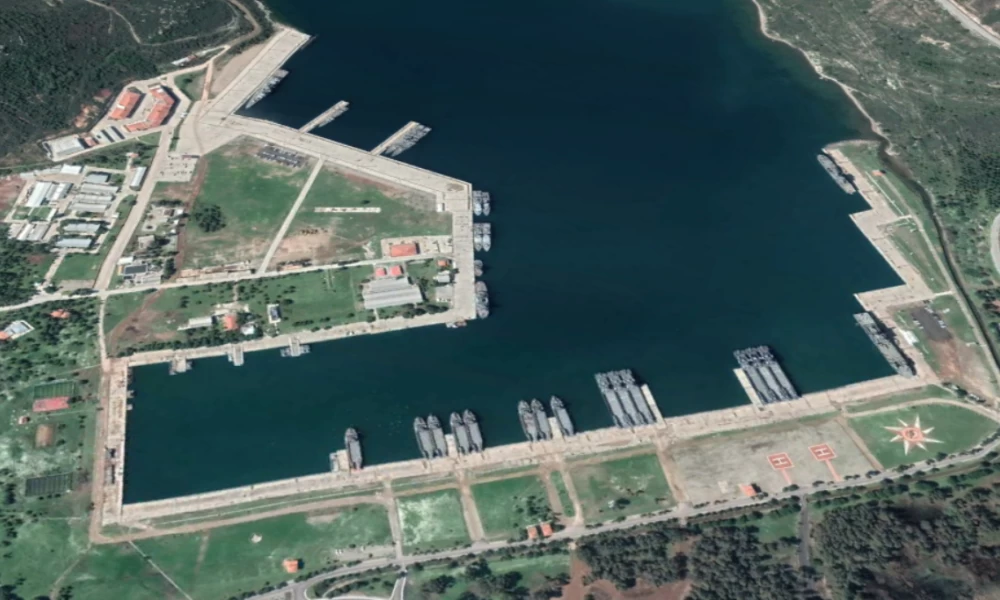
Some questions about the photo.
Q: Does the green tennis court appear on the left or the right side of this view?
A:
left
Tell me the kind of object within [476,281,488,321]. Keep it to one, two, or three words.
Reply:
ship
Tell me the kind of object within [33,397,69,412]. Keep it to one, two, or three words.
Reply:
basketball court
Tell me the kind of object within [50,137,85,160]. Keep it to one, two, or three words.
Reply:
building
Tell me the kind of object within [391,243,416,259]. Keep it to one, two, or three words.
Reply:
building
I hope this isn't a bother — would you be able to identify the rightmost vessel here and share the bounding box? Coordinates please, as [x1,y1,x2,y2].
[854,314,911,383]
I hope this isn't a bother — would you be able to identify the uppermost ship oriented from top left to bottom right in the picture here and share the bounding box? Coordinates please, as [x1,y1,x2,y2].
[819,156,855,197]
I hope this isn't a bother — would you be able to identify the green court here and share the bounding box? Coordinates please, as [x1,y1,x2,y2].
[33,379,75,400]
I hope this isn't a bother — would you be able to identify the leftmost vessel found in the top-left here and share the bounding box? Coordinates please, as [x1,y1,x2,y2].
[246,71,291,111]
